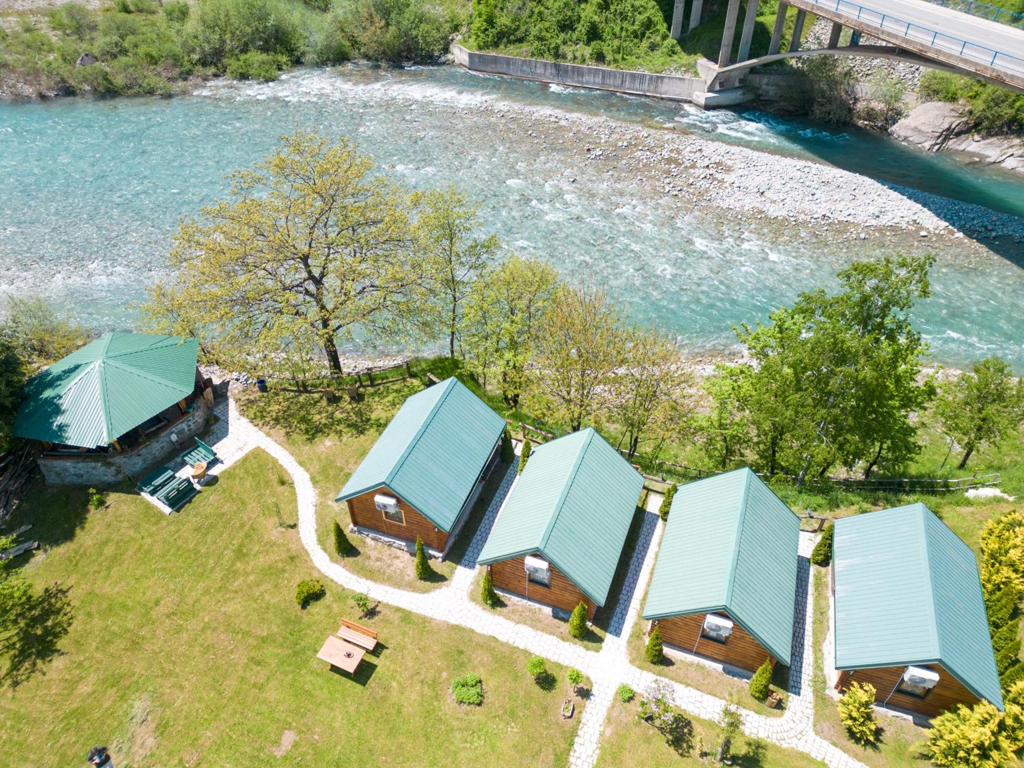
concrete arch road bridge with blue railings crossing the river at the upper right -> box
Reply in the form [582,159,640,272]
[681,0,1024,114]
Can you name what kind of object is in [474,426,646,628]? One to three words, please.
building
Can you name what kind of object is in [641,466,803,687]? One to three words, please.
building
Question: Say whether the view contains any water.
Yes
